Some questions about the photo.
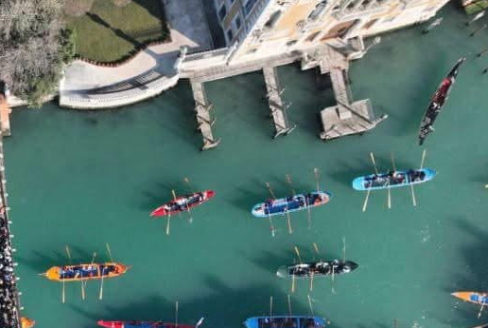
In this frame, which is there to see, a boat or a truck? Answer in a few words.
boat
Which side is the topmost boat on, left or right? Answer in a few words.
right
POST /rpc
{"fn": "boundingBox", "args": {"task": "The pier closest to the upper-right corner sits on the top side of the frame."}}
[326,71,349,108]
